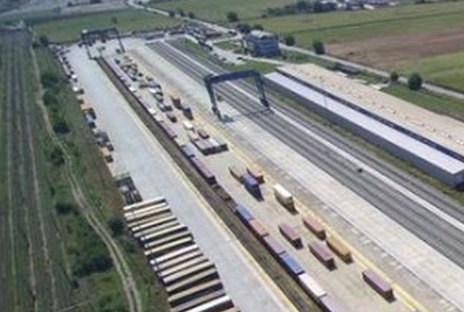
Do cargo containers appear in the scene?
Yes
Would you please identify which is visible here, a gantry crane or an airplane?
gantry crane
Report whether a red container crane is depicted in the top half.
No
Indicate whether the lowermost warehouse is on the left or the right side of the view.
right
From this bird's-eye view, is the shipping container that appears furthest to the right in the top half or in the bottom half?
bottom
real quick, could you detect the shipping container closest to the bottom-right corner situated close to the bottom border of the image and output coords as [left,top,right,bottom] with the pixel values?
[363,269,393,299]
